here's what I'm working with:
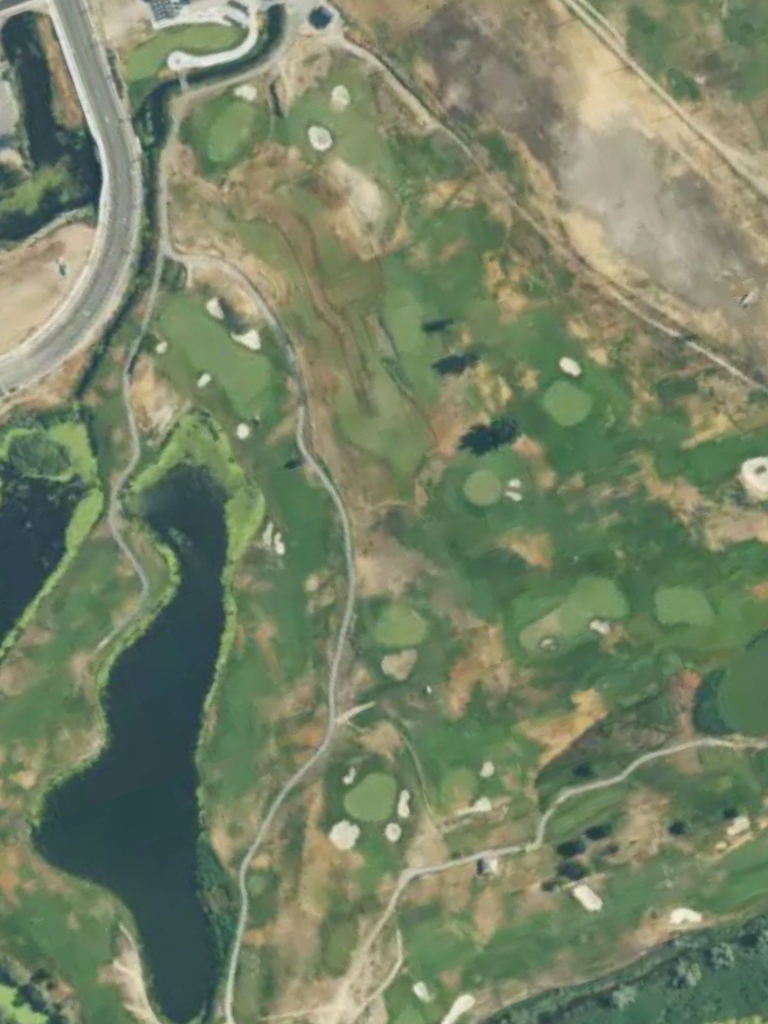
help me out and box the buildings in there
[481,860,497,876]
[154,0,189,25]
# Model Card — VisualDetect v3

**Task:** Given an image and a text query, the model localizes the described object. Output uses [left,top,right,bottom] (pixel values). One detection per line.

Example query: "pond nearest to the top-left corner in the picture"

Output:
[0,12,98,243]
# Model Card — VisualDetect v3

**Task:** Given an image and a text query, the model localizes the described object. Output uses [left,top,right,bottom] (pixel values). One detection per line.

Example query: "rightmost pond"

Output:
[696,635,768,735]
